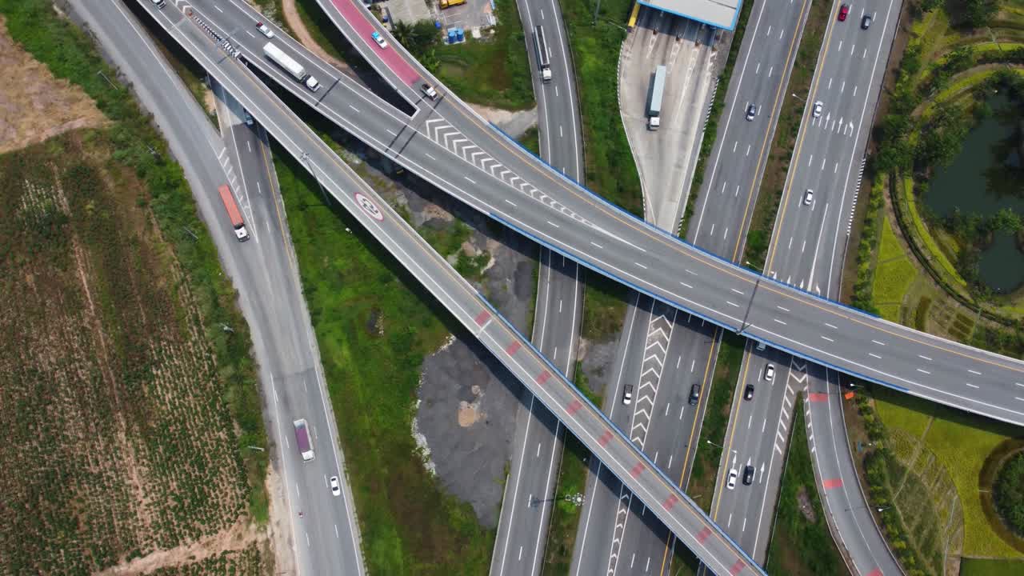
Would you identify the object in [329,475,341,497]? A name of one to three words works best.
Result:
vehicle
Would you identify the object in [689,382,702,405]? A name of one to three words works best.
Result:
vehicle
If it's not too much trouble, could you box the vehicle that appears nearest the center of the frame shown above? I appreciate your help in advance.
[622,382,634,406]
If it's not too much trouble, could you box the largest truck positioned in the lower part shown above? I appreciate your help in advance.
[290,418,315,464]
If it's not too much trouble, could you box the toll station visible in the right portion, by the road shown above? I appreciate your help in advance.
[619,0,742,234]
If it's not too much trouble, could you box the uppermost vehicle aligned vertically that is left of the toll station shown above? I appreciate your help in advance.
[532,22,553,84]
